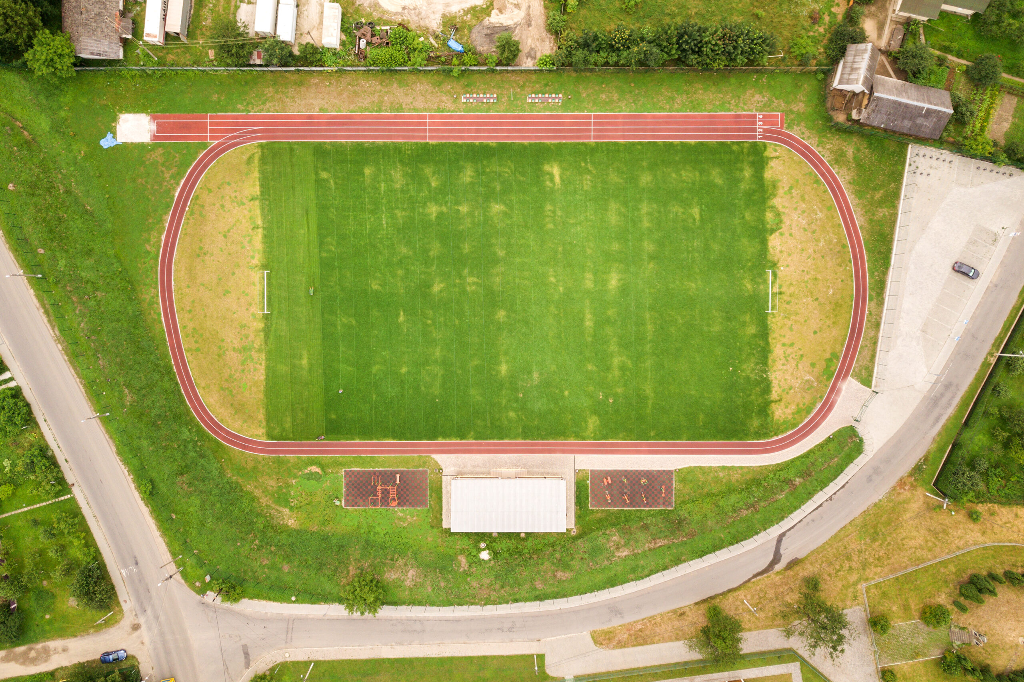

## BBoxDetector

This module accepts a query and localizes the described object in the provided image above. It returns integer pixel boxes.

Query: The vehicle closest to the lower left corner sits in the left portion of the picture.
[100,647,128,663]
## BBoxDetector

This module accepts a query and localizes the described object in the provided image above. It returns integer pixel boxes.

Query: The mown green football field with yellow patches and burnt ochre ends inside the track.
[172,141,854,442]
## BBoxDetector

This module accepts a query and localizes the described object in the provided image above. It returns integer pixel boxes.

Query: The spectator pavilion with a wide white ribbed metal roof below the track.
[451,471,566,532]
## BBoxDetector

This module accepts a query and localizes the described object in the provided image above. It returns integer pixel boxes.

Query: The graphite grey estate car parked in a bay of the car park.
[953,261,981,280]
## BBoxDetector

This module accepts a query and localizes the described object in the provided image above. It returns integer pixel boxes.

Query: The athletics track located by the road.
[150,112,869,457]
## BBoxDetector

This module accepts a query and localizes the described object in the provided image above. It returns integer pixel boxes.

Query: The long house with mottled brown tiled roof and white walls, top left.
[67,0,137,61]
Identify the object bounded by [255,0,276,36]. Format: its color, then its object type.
white trailer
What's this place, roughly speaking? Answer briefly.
sports ground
